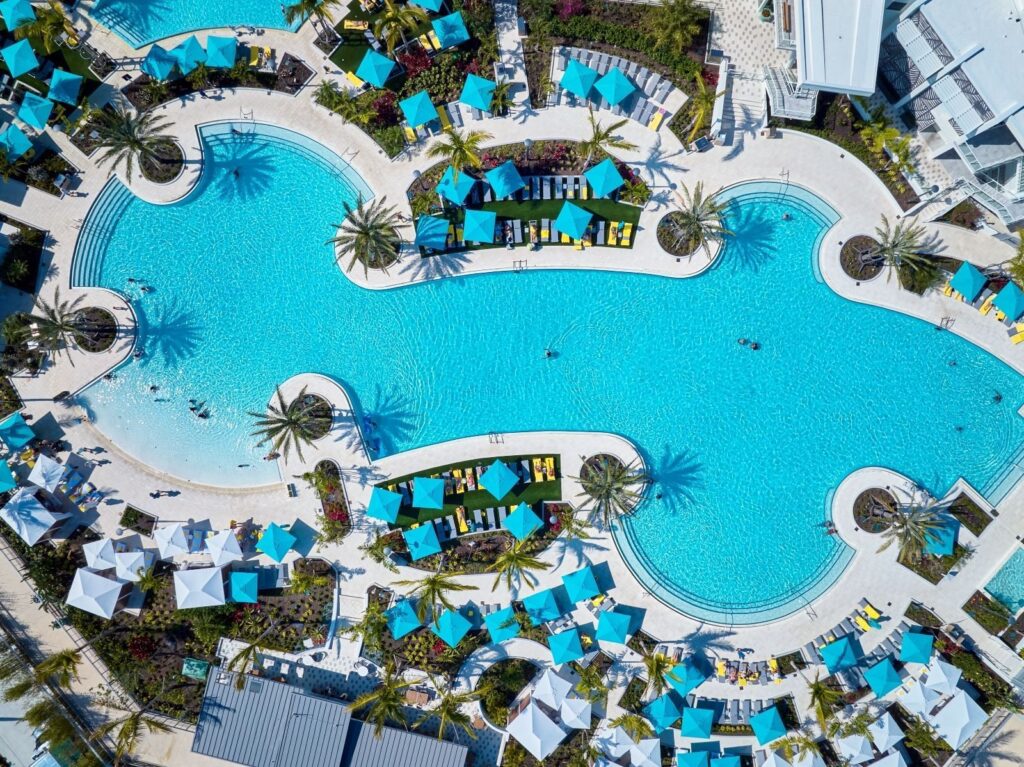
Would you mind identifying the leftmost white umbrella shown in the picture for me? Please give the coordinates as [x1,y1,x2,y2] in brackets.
[29,455,65,491]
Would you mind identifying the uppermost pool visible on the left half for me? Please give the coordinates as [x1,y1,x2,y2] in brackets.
[90,0,322,48]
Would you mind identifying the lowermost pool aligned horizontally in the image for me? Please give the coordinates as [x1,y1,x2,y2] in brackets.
[72,120,1024,625]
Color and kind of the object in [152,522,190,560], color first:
white umbrella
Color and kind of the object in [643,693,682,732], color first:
blue umbrella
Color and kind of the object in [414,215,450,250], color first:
blue umbrella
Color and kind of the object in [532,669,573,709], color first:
white umbrella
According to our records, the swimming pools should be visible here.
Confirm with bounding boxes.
[72,120,1024,625]
[90,0,322,48]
